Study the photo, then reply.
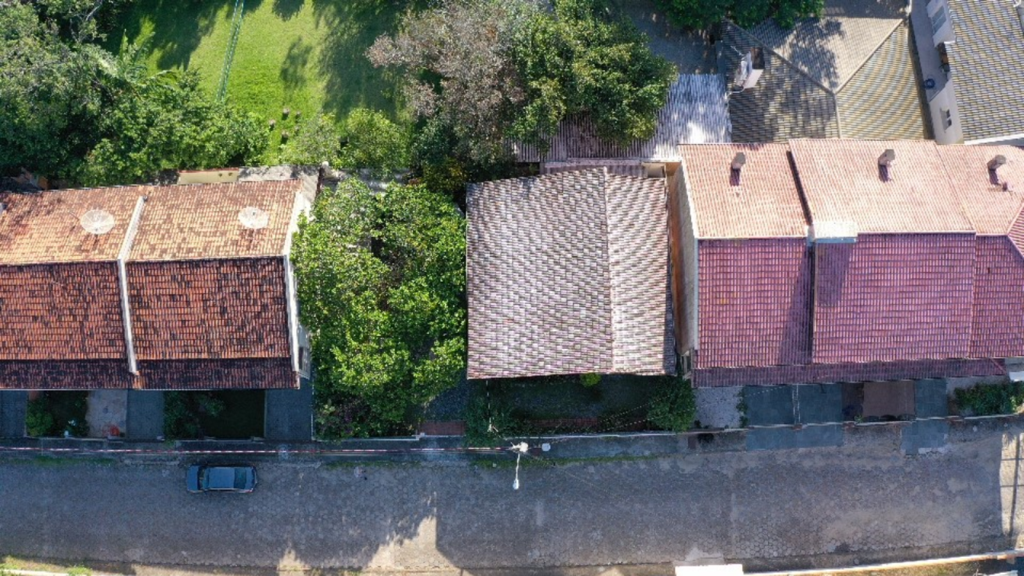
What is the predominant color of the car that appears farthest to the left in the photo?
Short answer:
blue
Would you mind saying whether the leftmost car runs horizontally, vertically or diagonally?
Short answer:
horizontally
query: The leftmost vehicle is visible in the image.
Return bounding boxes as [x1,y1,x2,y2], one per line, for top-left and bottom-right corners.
[183,461,260,499]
